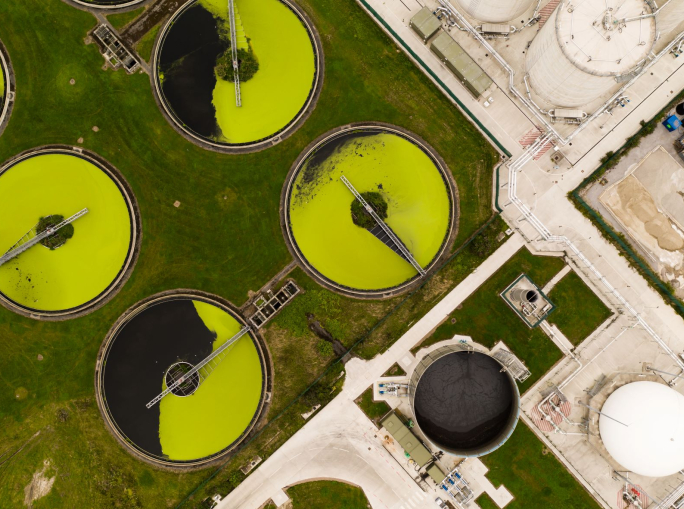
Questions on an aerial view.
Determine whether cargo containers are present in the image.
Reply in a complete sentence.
Yes, looking at the shot, I can spot a cargo container.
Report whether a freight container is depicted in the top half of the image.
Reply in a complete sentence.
Yes, in the top half of the image there is a freight container.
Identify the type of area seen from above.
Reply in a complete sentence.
It's an industrial area.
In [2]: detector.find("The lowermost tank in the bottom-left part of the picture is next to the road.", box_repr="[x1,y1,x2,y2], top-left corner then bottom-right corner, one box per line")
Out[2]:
[92,289,273,473]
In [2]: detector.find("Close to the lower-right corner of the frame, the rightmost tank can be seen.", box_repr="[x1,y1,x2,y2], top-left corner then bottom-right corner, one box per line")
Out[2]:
[595,380,684,472]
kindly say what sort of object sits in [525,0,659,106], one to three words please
storage tank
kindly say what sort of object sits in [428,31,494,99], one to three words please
shipping container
